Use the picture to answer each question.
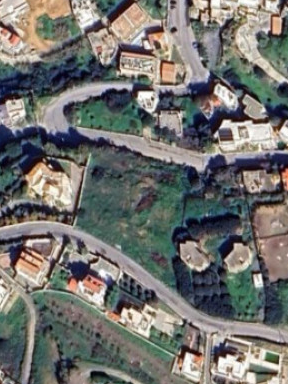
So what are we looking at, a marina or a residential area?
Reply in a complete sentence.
The picture captures a residential area.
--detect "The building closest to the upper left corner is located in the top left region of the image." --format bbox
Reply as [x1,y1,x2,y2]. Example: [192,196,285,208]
[0,0,32,25]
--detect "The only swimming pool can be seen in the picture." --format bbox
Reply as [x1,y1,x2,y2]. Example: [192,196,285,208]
[262,349,281,366]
